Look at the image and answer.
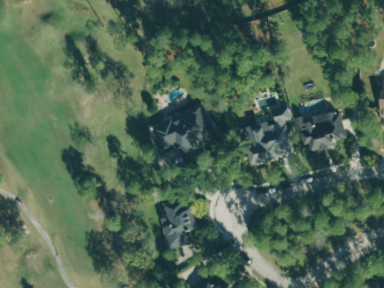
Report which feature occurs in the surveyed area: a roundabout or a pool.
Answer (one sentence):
Of the two, only a pool appears.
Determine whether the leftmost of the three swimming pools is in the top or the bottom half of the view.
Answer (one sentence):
The leftmost of the three swimming pools is in the top half of the image.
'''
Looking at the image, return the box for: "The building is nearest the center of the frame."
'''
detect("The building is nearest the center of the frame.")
[150,106,206,155]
